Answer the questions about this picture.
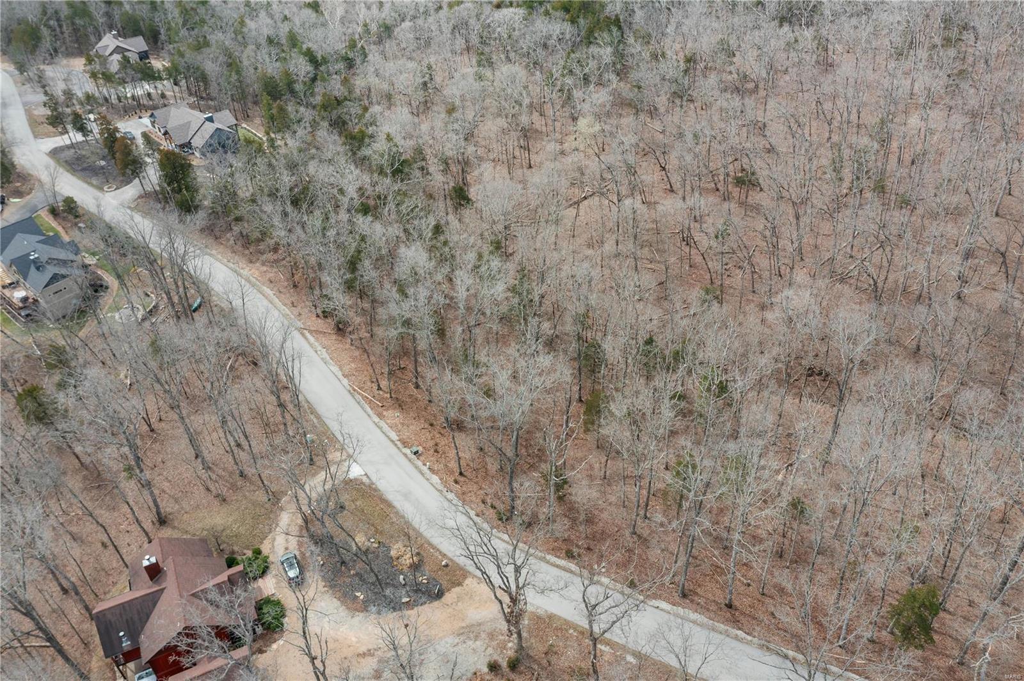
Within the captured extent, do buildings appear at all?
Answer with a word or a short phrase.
Yes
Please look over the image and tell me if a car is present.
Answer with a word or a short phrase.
Yes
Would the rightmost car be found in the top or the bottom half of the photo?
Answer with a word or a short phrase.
bottom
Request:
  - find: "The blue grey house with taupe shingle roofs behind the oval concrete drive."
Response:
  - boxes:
[147,101,245,169]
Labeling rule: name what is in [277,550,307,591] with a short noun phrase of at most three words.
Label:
car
